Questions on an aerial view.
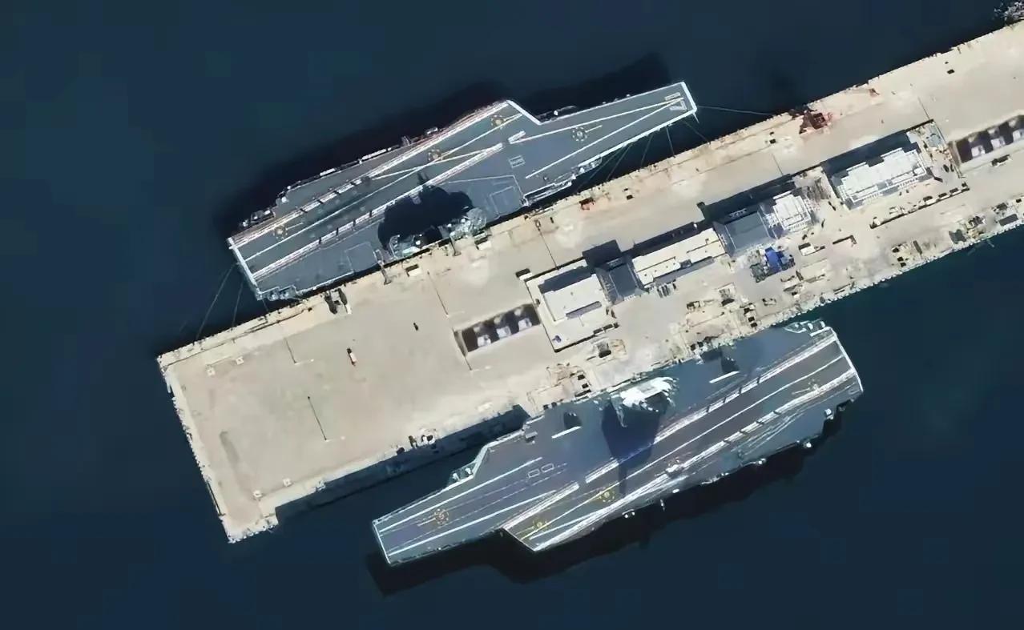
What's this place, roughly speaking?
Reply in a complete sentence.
What you see here is a port.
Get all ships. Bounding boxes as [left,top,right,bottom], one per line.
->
[373,320,863,567]
[230,82,699,300]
